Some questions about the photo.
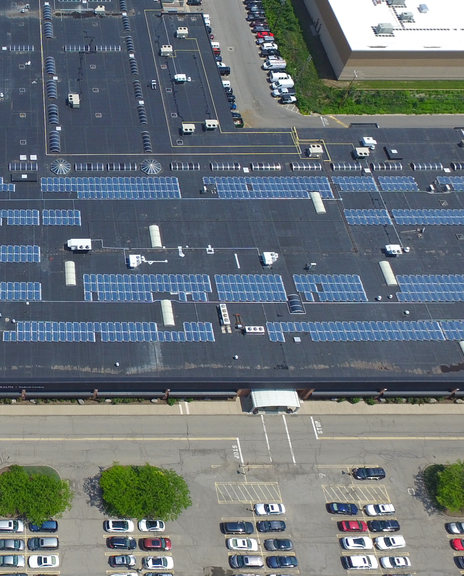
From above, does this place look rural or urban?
urban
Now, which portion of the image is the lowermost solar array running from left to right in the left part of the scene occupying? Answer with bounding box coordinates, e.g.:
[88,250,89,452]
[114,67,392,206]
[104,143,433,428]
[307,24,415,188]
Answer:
[3,322,216,342]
